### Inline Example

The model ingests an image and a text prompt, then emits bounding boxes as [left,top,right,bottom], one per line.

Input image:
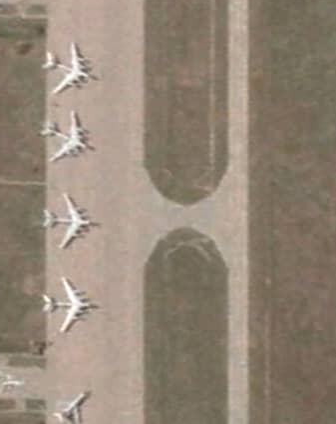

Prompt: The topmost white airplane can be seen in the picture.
[46,42,95,93]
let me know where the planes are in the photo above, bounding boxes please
[46,42,95,93]
[44,111,93,161]
[45,193,98,247]
[52,393,87,424]
[44,278,97,332]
